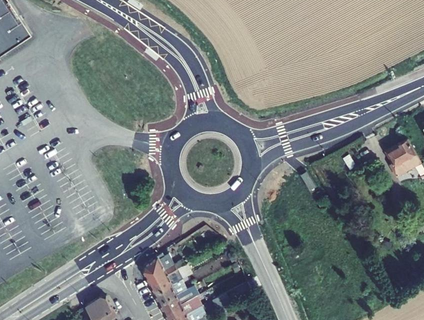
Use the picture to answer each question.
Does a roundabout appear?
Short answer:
Yes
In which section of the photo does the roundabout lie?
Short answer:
center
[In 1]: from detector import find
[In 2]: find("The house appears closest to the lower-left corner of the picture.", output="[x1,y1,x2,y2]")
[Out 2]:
[83,298,112,320]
